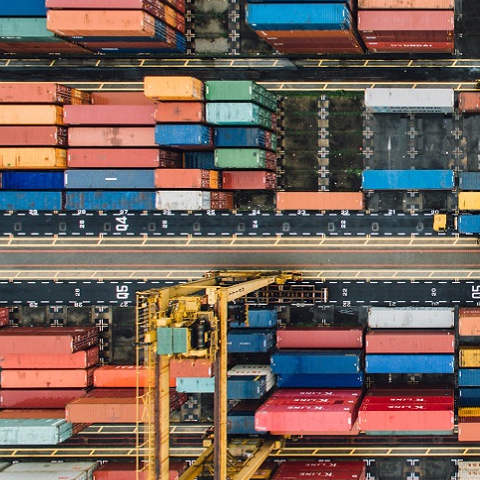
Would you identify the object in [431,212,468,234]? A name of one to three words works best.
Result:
work vehicle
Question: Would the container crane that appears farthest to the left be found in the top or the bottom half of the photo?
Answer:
bottom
